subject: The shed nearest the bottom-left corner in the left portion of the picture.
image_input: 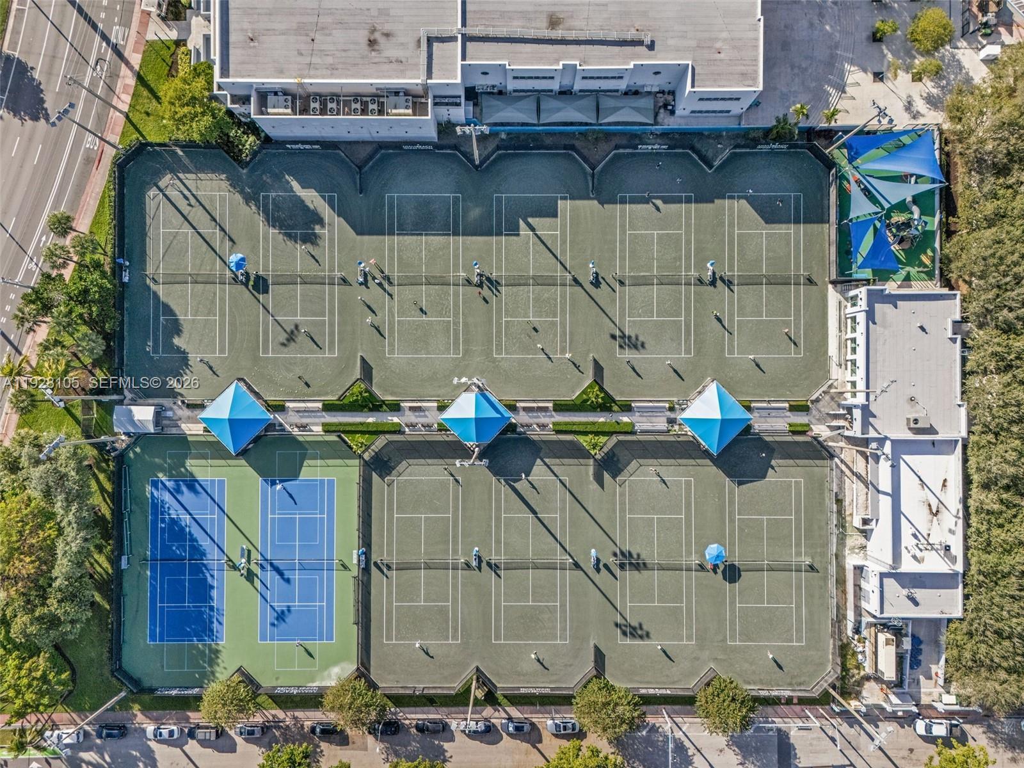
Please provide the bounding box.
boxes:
[115,407,171,433]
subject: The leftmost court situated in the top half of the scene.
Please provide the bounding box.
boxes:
[124,148,243,400]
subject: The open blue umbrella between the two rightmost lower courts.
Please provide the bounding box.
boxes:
[705,544,725,564]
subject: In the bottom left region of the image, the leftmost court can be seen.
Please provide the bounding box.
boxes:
[122,436,241,687]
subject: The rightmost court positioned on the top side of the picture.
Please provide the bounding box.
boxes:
[710,150,831,400]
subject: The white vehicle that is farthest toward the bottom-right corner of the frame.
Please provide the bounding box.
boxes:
[914,717,956,736]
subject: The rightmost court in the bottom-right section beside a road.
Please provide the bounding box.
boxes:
[712,435,831,689]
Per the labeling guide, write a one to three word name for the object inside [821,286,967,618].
building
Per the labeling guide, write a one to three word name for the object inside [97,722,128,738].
car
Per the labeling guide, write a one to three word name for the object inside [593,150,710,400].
tennis court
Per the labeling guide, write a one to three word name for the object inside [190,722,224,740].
car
